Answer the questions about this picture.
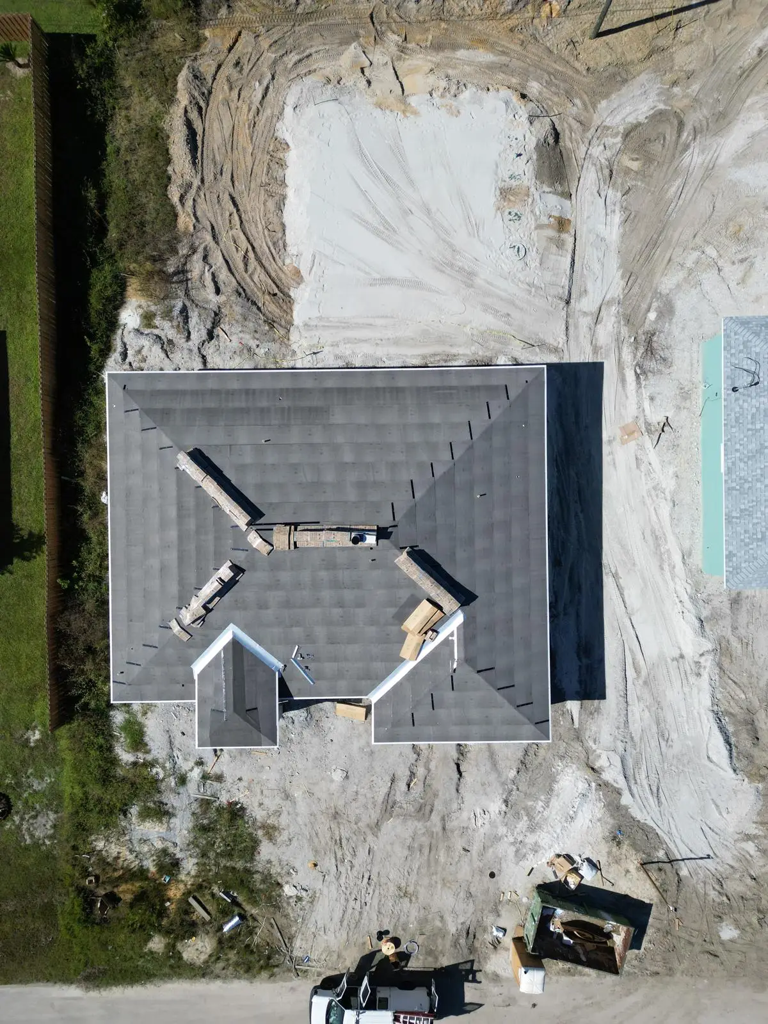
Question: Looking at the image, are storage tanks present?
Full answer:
No, there's no storage tank here.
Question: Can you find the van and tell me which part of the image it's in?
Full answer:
The van sits in the bottom section of the image.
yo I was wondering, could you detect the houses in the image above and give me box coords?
[106,365,552,748]
[701,314,768,590]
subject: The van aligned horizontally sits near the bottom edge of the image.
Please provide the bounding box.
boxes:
[308,964,438,1024]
